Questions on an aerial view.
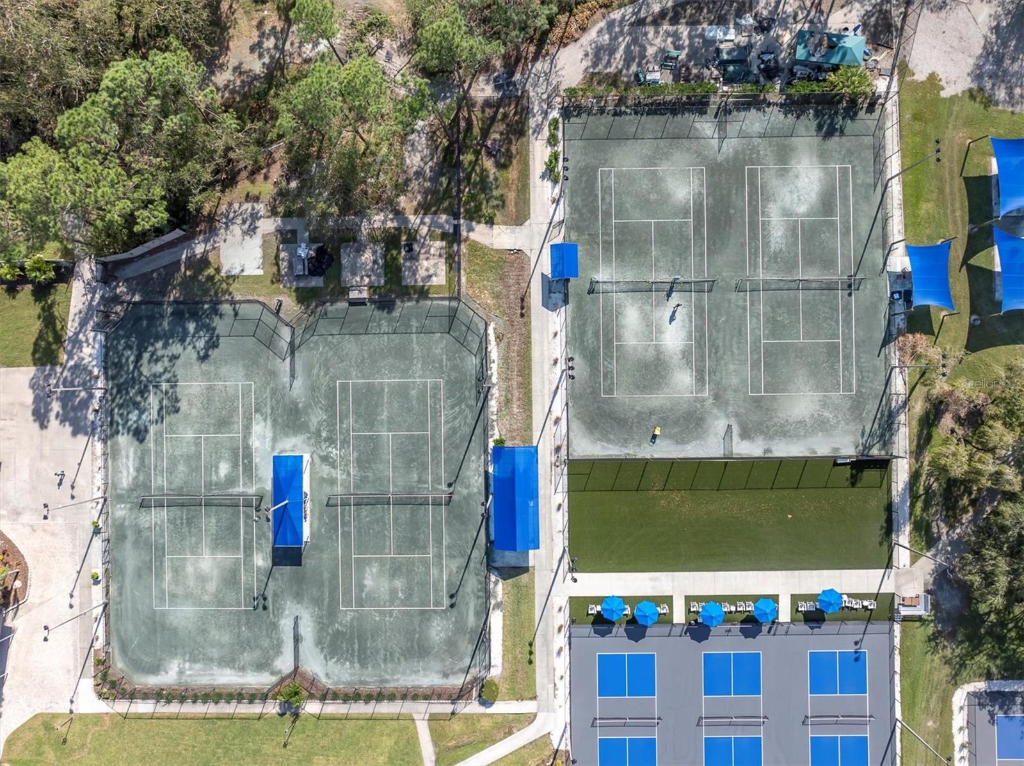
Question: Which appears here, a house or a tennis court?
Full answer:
It is a tennis court that can be seen here.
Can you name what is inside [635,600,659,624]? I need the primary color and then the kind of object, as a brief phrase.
blue umbrella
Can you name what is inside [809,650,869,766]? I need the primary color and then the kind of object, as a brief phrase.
blue sports court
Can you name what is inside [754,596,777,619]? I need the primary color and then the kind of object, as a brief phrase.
blue umbrella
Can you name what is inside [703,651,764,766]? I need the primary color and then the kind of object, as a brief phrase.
blue sports court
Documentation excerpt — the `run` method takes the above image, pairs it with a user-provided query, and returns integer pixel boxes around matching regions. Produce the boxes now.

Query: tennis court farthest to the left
[110,303,298,687]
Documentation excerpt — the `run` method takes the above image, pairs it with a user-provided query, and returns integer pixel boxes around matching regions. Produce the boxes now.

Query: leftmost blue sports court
[597,653,657,766]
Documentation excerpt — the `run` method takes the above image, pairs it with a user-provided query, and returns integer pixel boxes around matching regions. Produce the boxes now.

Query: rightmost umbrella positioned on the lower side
[816,589,840,612]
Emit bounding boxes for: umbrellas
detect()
[700,603,724,626]
[635,600,659,624]
[601,598,624,620]
[754,596,777,619]
[816,589,840,612]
